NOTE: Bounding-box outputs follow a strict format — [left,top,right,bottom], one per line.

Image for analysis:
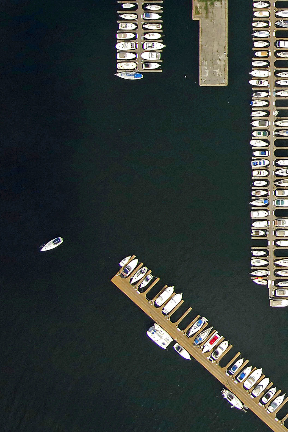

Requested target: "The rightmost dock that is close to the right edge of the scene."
[251,0,288,300]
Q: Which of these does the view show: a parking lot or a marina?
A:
marina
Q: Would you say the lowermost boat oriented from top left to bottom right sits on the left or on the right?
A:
right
